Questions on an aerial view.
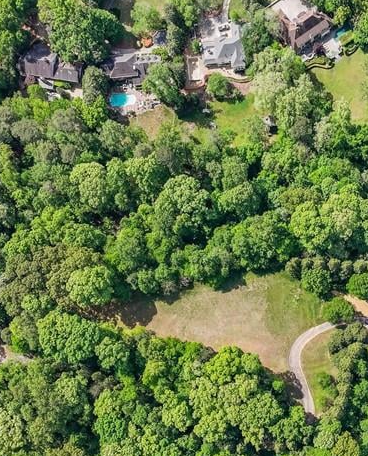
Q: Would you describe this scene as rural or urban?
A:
rural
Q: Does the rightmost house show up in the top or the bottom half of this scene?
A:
top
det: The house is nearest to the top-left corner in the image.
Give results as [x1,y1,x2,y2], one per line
[22,45,83,86]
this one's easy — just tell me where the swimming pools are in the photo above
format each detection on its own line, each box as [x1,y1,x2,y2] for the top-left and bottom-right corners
[108,92,136,108]
[334,27,349,42]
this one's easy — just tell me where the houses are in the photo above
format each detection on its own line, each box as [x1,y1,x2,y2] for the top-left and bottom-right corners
[22,45,83,86]
[277,7,333,58]
[109,49,161,85]
[203,19,246,75]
